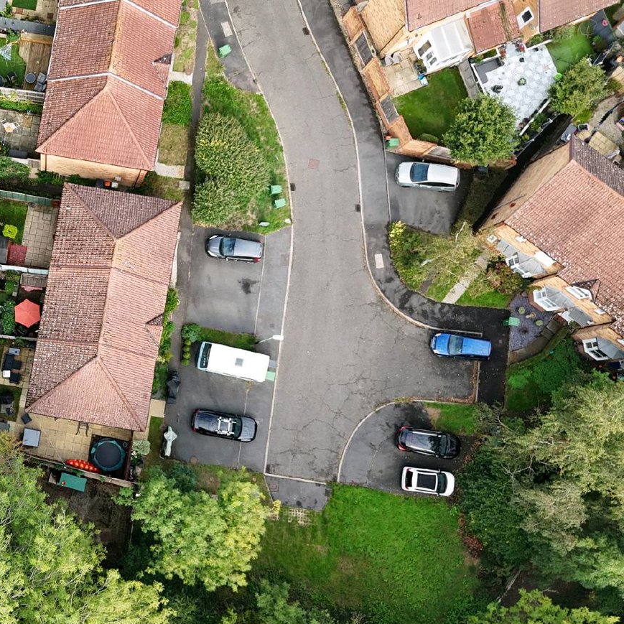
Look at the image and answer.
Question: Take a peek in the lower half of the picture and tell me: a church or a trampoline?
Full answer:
It is a trampoline that can be seen in the lower half of the picture.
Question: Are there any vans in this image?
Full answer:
Yes, there's a van down there.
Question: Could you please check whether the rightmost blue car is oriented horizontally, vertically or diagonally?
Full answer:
The rightmost blue car runs horizontally in the image.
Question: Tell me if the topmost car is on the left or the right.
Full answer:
The topmost car sits on the right side.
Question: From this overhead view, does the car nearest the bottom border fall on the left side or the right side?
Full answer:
The car nearest the bottom border sits on the right side.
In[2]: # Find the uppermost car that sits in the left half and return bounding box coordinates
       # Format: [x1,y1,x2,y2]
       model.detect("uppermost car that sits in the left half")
[204,230,265,265]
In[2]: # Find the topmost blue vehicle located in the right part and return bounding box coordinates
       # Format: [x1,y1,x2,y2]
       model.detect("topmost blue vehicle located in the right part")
[428,329,495,363]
